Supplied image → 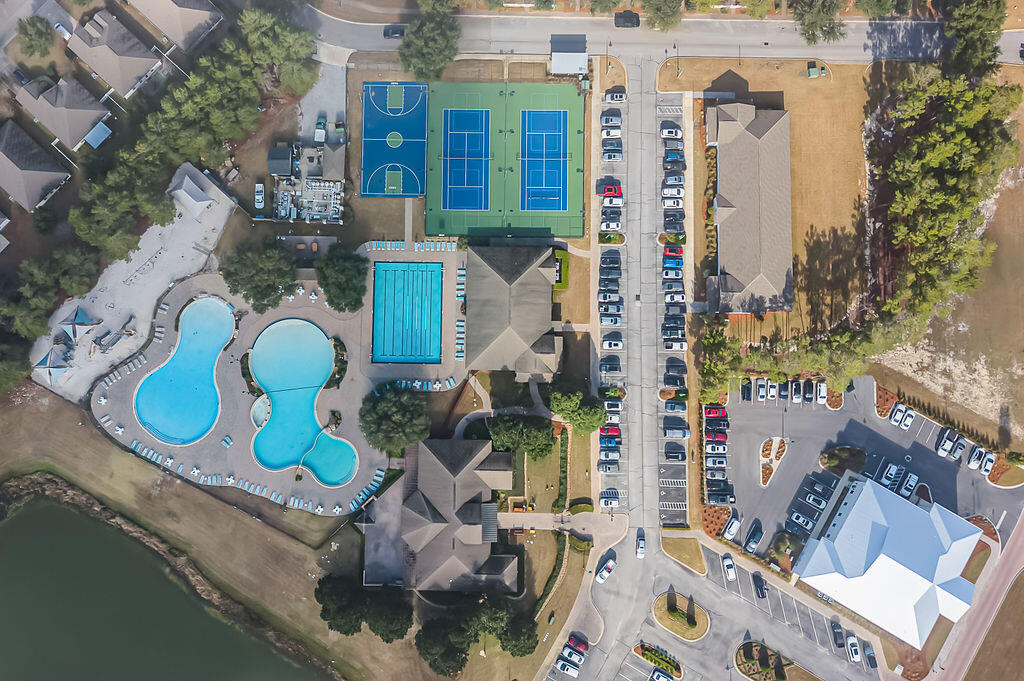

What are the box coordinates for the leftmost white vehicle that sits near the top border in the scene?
[54,22,72,42]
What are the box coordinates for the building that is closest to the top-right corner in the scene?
[703,100,791,314]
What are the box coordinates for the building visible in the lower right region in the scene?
[785,479,983,650]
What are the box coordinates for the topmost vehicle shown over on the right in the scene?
[616,14,639,26]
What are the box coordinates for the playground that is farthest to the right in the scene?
[84,315,135,357]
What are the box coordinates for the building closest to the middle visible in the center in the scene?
[466,247,563,383]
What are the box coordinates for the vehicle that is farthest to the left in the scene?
[12,67,32,86]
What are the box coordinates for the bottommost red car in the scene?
[569,637,589,654]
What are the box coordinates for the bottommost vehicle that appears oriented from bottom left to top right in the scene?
[596,560,616,584]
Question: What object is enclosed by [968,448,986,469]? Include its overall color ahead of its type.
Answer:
white car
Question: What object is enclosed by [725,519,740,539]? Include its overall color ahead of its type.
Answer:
white car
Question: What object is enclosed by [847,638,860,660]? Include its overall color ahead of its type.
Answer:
white vehicle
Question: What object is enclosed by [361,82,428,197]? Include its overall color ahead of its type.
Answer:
blue basketball court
